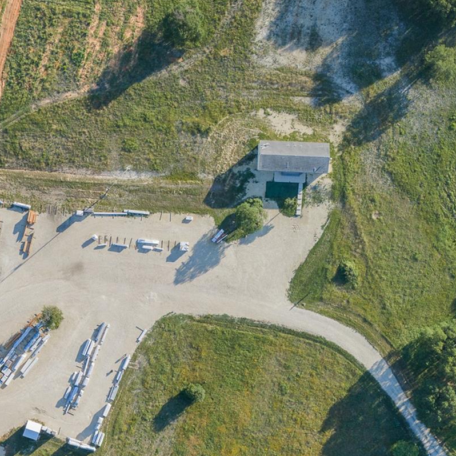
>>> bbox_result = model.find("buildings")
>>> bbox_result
[255,141,333,183]
[23,421,42,440]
